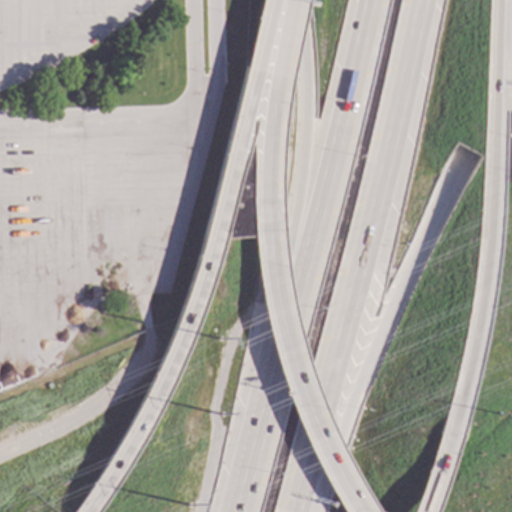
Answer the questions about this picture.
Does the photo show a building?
No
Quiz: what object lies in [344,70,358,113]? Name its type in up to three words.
vehicle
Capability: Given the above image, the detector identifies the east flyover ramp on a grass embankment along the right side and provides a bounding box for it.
[418,0,512,512]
